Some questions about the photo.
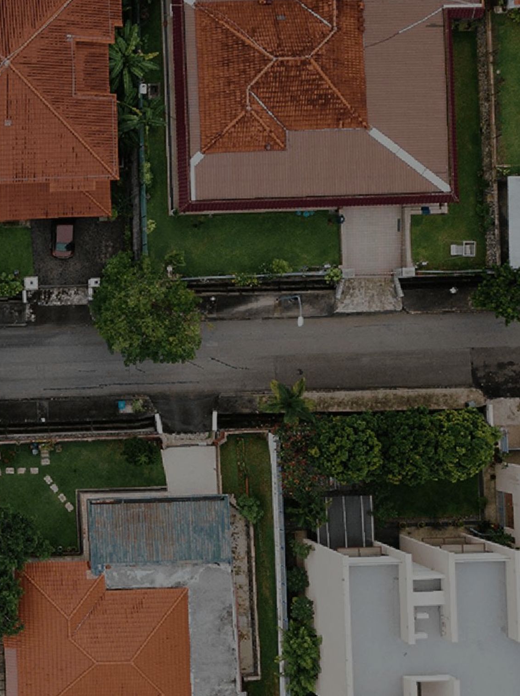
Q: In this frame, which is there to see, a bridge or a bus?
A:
bridge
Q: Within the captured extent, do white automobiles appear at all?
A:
No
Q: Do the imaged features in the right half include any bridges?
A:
Yes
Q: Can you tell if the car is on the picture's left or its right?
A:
left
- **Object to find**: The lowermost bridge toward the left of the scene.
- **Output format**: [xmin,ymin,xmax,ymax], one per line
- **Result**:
[162,433,213,447]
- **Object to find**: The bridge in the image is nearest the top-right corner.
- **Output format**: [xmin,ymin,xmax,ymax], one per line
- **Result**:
[335,277,402,313]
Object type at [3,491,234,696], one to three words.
house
